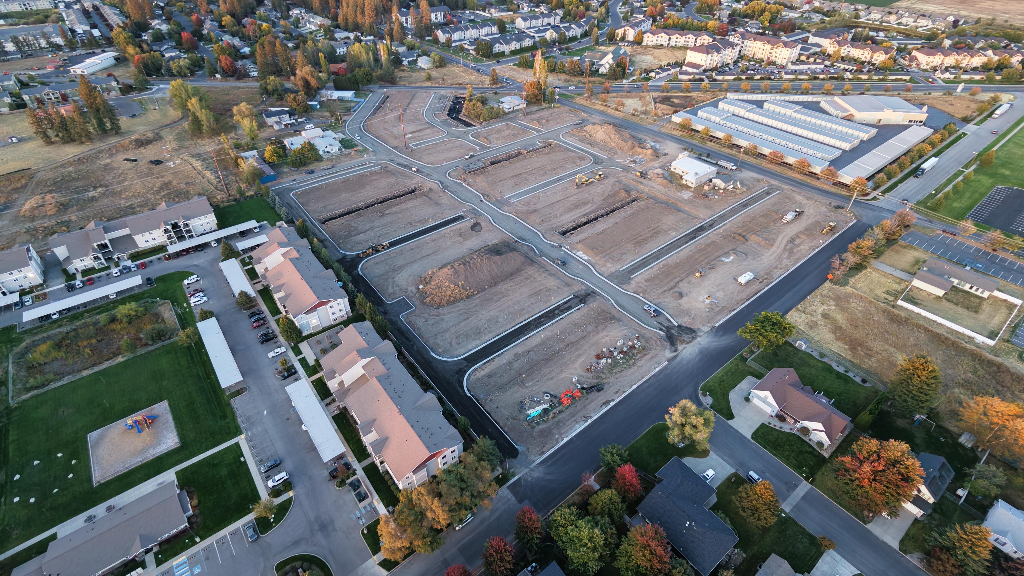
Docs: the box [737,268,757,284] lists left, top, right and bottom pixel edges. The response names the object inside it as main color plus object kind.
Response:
white vehicle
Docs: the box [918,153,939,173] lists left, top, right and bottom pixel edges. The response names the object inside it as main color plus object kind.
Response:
white vehicle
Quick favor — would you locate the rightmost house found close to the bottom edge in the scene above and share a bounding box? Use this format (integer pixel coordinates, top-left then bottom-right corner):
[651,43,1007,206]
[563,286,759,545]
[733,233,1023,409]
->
[982,499,1024,563]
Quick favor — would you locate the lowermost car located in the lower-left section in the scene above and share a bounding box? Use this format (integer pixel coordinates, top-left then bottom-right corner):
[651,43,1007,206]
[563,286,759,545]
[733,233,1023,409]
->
[241,519,257,542]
